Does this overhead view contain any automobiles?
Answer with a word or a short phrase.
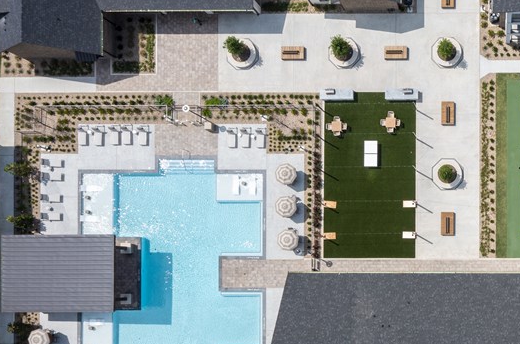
No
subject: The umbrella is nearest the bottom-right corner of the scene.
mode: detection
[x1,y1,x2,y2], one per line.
[277,230,299,250]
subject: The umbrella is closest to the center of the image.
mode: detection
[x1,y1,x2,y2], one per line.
[276,164,297,184]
